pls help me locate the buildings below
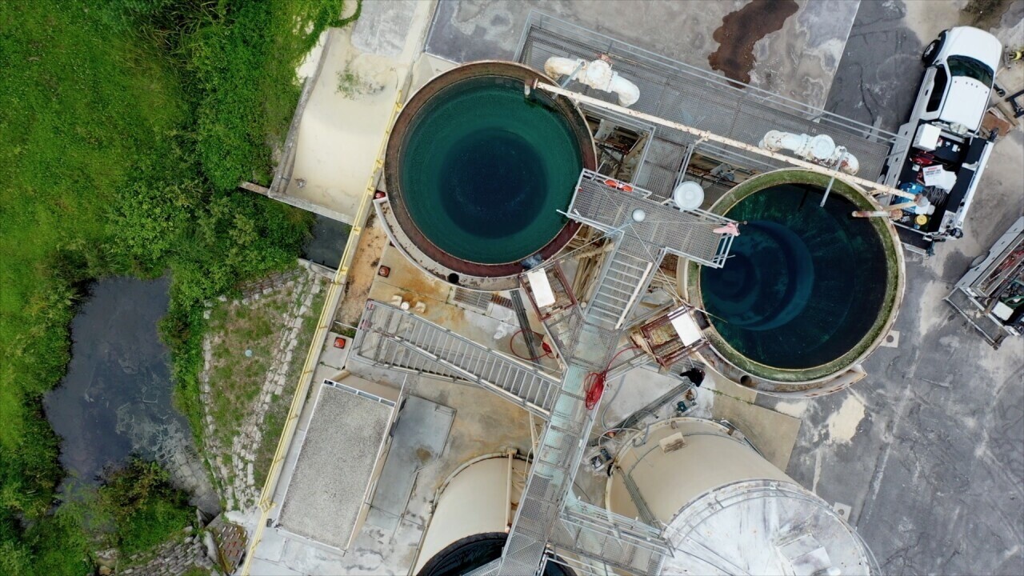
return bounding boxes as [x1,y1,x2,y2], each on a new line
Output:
[275,377,413,559]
